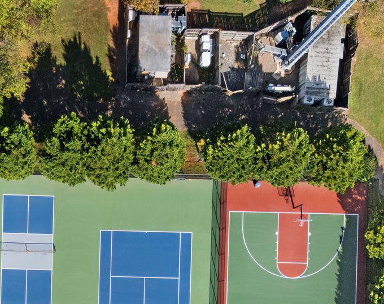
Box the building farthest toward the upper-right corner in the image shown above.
[298,16,346,99]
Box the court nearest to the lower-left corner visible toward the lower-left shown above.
[0,194,54,304]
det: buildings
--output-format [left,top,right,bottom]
[137,16,172,76]
[298,16,346,99]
